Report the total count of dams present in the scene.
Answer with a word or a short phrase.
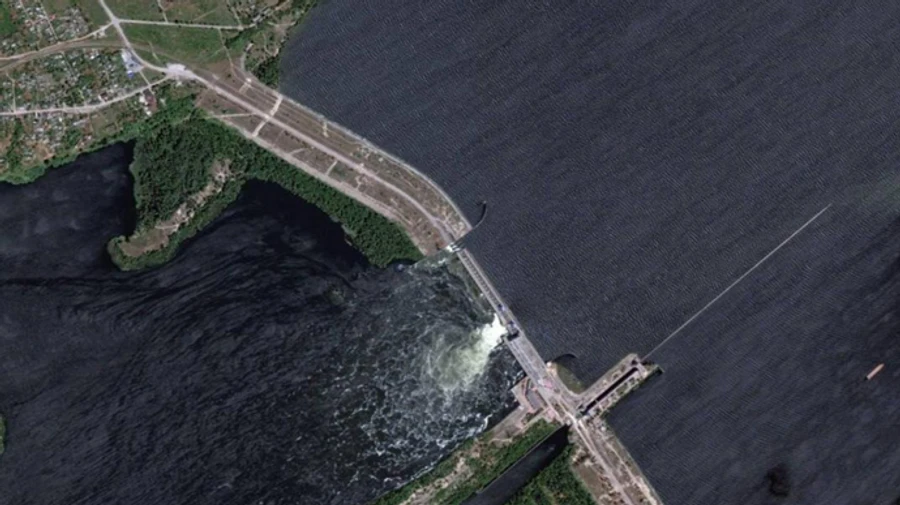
2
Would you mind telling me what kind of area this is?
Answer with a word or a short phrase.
port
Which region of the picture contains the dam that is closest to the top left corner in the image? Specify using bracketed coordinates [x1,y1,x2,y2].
[192,53,468,256]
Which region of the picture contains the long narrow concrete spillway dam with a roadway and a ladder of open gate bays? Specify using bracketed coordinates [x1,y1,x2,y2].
[458,249,519,334]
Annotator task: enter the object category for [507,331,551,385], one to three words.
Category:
building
